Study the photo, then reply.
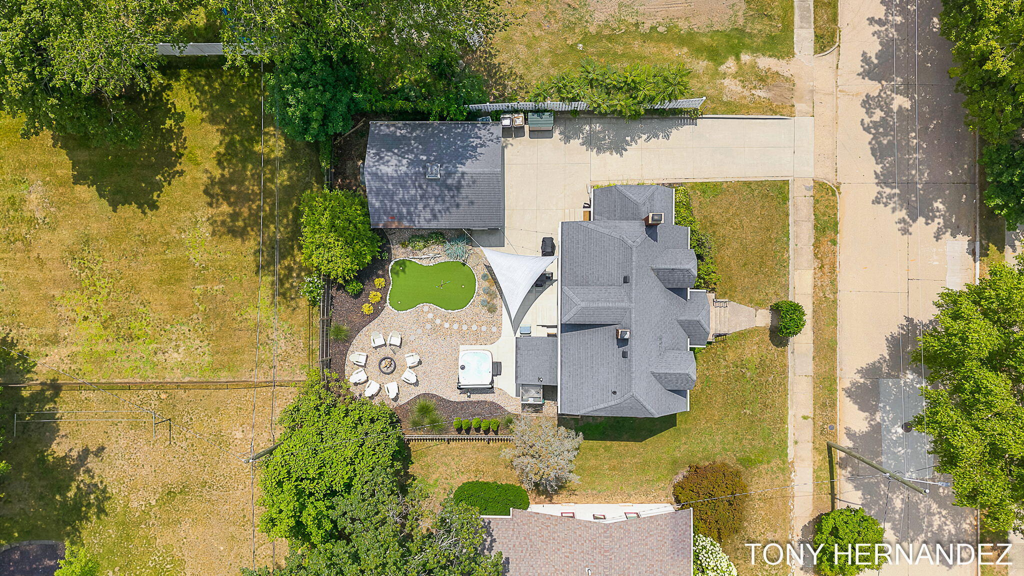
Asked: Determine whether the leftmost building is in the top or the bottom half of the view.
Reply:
top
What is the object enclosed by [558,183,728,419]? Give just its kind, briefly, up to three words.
house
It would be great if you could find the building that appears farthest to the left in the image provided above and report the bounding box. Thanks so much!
[364,121,503,230]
